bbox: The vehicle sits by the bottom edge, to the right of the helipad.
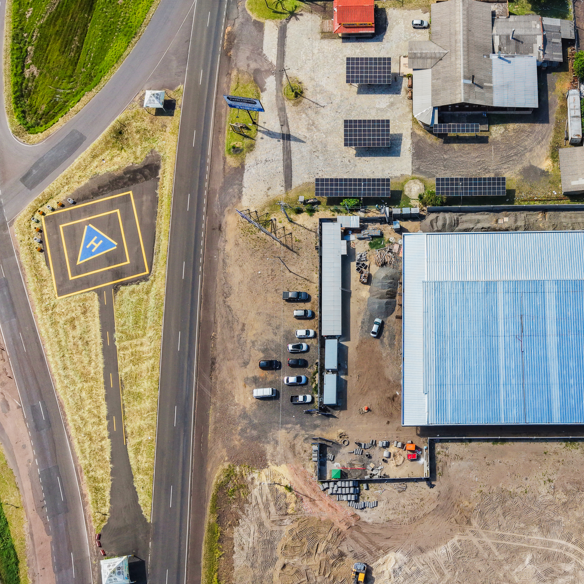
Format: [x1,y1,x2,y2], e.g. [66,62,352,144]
[350,557,369,584]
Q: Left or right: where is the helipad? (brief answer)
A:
left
